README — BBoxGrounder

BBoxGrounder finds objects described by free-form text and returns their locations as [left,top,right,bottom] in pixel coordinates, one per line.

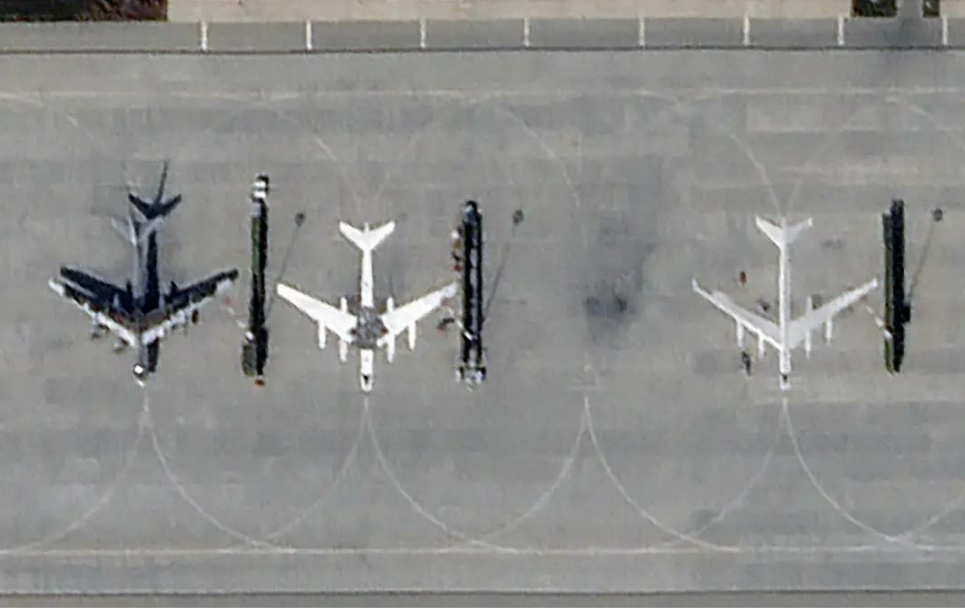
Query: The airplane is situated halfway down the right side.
[693,217,877,388]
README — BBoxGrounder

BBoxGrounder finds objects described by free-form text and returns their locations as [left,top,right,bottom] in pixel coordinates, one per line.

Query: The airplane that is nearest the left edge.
[50,200,230,386]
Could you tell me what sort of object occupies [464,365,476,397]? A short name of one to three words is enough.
vehicle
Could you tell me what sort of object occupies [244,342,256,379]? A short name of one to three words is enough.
vehicle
